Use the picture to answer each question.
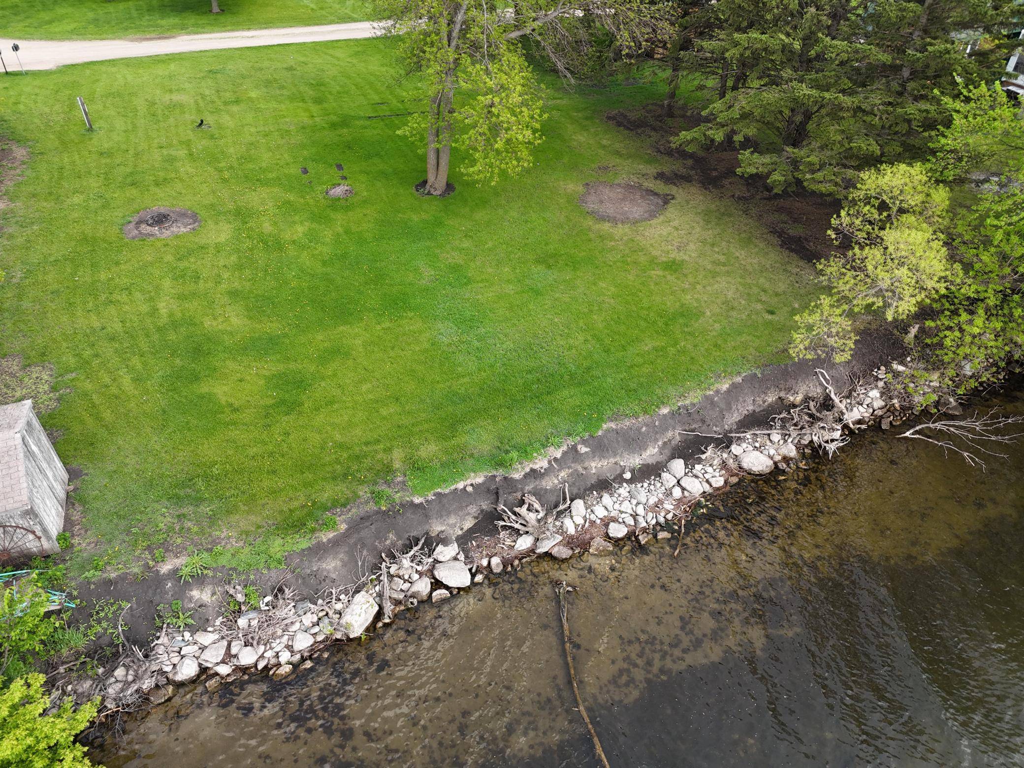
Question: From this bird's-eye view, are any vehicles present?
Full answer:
No, no vehicle is visible in the scene.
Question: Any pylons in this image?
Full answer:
No, no pylon can be seen from above.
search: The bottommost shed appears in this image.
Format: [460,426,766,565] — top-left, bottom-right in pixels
[0,401,69,567]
